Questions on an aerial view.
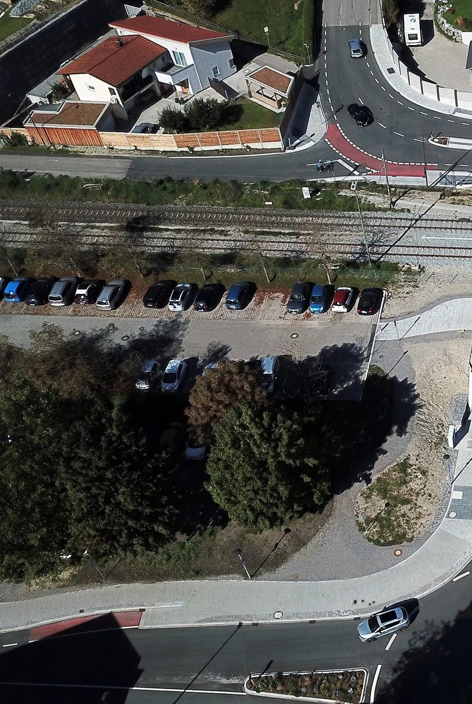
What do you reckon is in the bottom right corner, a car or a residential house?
car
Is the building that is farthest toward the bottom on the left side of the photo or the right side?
left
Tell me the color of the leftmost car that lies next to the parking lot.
blue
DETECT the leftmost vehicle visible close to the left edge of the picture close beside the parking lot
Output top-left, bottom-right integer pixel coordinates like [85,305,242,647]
[0,275,29,301]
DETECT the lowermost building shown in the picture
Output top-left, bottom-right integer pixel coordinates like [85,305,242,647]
[22,98,118,150]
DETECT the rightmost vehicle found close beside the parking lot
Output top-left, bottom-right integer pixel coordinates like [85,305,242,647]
[356,284,380,314]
